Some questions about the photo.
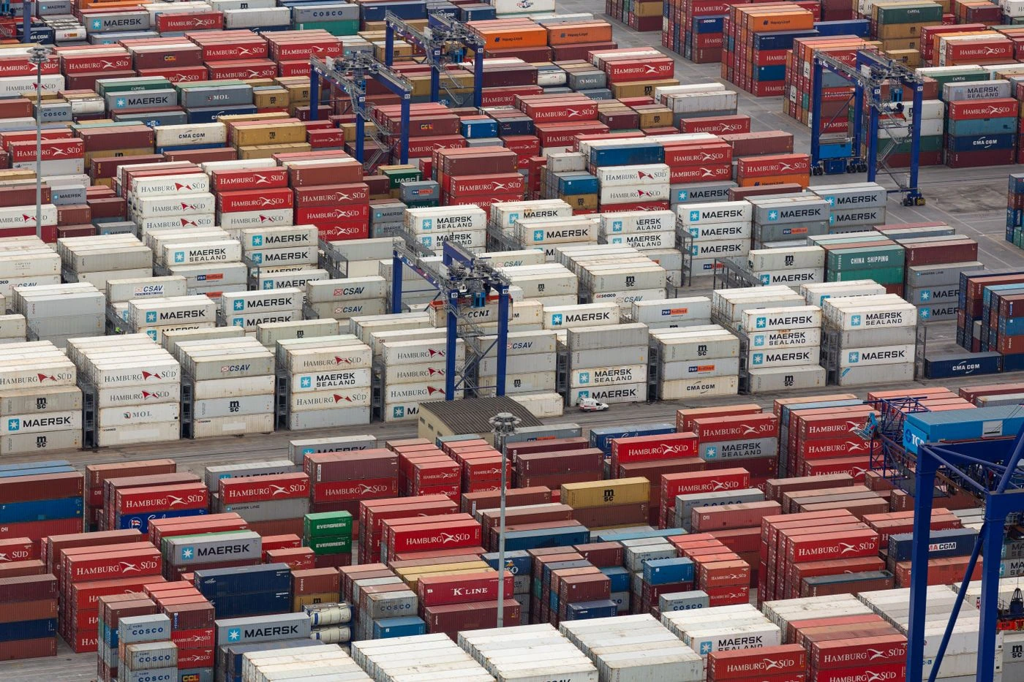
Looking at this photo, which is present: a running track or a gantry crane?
gantry crane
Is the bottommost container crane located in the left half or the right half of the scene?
right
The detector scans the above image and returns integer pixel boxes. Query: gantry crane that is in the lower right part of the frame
[825,340,1024,682]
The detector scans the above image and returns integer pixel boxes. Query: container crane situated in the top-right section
[808,47,928,203]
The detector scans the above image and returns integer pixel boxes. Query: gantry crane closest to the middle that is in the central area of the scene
[385,237,514,401]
